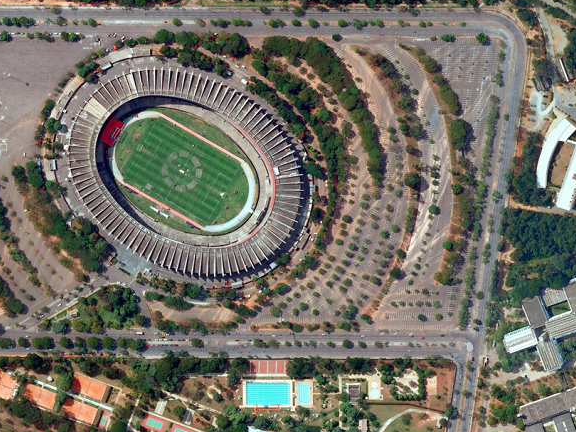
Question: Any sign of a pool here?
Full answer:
Yes, the picture does show a pool.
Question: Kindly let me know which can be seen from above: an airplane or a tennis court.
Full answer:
Of the two, only a tennis court appears.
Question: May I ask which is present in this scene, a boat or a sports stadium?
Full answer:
This aerial view contains a sports stadium.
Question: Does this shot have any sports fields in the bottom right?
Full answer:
No, no sports field appears in the bottom right.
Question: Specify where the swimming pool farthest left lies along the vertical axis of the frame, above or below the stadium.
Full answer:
The swimming pool farthest left appears below the stadium in the picture.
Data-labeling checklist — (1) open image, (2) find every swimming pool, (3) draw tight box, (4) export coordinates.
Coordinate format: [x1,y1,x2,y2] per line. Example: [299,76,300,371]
[295,379,312,407]
[370,388,381,399]
[243,379,292,407]
[369,379,380,390]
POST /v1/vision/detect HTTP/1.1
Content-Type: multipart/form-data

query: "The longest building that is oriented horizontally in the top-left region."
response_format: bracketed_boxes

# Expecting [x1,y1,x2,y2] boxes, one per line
[98,49,151,67]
